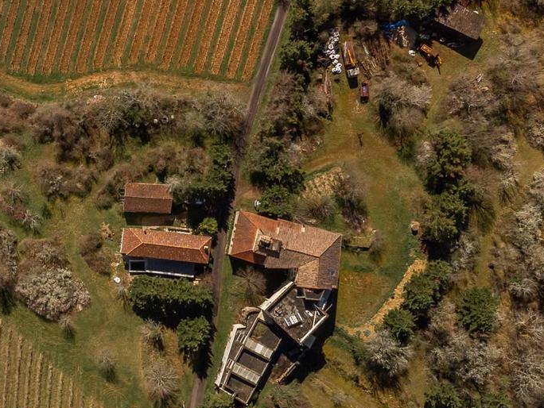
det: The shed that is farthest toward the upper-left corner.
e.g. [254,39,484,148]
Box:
[123,181,172,214]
